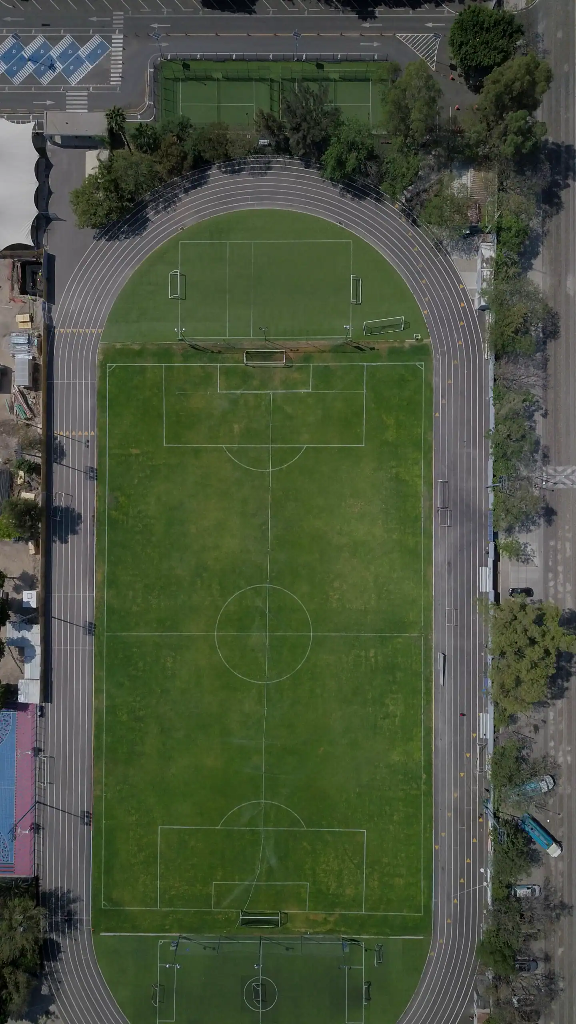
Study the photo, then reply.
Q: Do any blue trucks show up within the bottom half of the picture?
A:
Yes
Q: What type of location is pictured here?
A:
sports ground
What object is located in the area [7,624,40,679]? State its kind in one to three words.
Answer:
shed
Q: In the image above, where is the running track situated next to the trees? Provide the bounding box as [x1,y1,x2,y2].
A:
[39,156,486,1024]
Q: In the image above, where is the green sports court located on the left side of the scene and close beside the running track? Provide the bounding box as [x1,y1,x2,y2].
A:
[161,69,271,132]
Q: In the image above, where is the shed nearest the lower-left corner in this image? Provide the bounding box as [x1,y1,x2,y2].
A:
[18,678,40,703]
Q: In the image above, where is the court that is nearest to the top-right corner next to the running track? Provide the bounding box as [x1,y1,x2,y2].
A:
[281,69,390,132]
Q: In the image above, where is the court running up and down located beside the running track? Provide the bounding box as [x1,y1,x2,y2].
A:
[0,703,37,877]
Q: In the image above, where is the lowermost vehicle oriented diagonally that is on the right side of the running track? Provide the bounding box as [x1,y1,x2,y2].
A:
[515,808,560,856]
